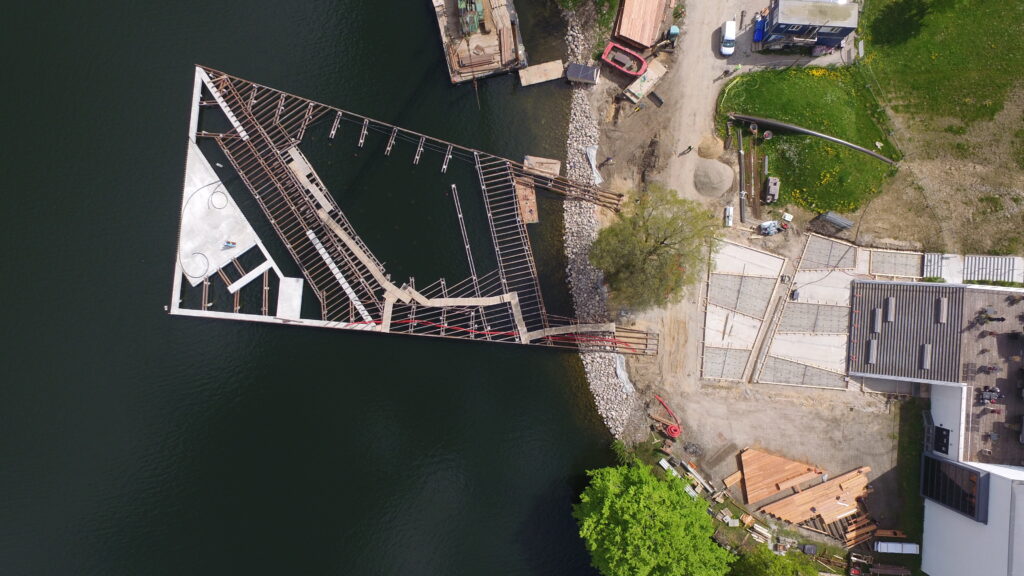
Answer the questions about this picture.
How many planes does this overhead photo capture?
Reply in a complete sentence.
I count no planes.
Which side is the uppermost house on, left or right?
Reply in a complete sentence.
The uppermost house appears in the right half of the scene.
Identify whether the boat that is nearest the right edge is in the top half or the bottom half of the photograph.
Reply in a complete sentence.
The boat that is nearest the right edge is in the top half of the image.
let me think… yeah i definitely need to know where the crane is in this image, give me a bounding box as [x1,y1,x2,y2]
[455,0,487,109]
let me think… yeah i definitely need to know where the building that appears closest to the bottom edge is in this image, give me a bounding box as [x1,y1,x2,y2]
[920,450,1024,576]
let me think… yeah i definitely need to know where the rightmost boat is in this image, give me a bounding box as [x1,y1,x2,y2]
[602,43,647,76]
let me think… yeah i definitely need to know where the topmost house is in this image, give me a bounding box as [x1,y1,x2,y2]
[763,0,860,51]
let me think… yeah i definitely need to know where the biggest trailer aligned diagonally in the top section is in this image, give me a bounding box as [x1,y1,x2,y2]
[623,59,668,103]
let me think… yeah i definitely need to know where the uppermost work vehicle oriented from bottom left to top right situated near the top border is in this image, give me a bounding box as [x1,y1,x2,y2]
[643,26,683,61]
